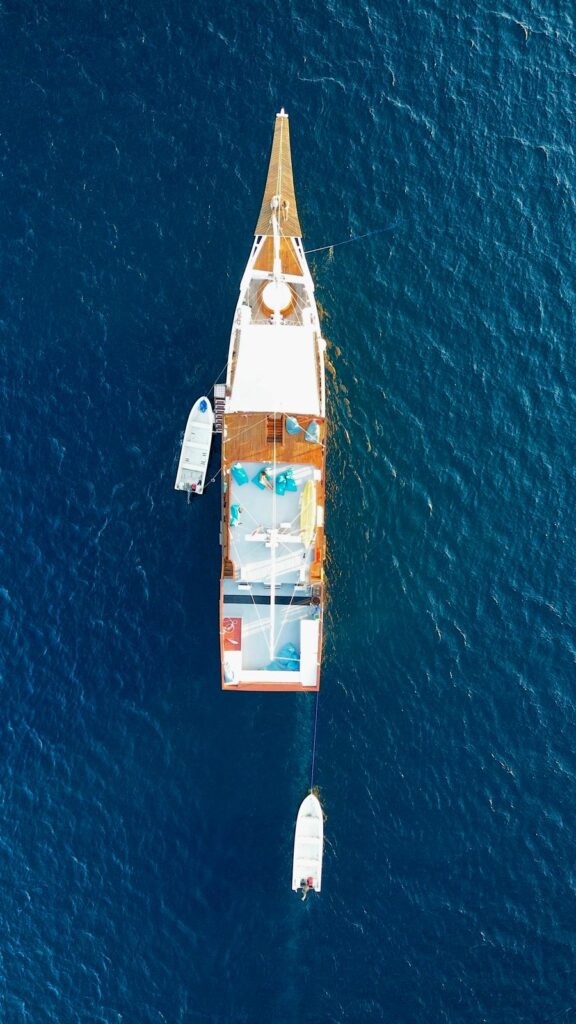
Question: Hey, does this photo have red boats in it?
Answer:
No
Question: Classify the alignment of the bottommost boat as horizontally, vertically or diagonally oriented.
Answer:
vertically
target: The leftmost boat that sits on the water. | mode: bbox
[175,396,211,501]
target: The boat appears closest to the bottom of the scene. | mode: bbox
[292,794,323,899]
